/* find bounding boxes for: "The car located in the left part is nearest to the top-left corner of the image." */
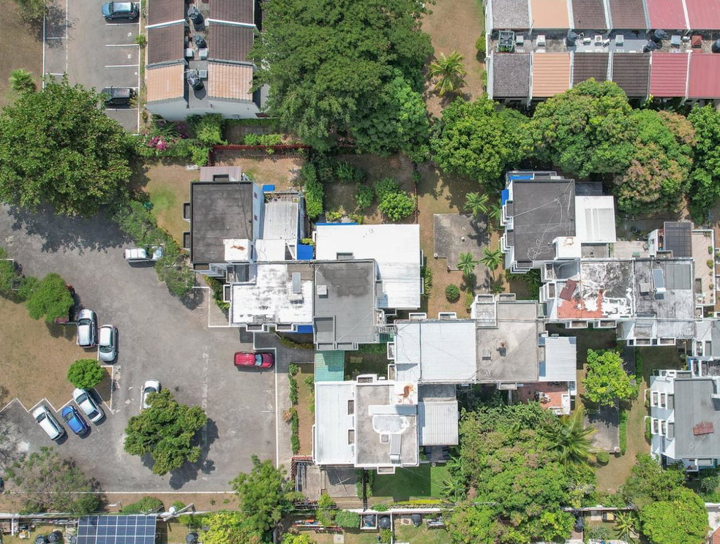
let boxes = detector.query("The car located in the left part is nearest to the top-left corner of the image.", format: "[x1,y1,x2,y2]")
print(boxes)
[103,1,139,22]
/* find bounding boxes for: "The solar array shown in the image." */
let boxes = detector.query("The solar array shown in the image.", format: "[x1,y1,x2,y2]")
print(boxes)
[74,515,160,544]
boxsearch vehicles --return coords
[77,310,97,347]
[74,391,105,425]
[142,381,161,400]
[62,403,90,439]
[98,325,118,362]
[103,88,136,106]
[234,350,275,369]
[103,1,139,22]
[35,405,66,442]
[122,246,163,264]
